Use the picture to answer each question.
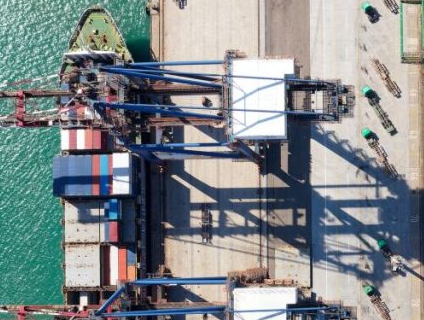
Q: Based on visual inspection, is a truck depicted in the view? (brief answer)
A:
Yes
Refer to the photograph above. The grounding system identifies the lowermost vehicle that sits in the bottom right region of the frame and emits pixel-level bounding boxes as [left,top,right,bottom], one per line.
[363,284,393,320]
